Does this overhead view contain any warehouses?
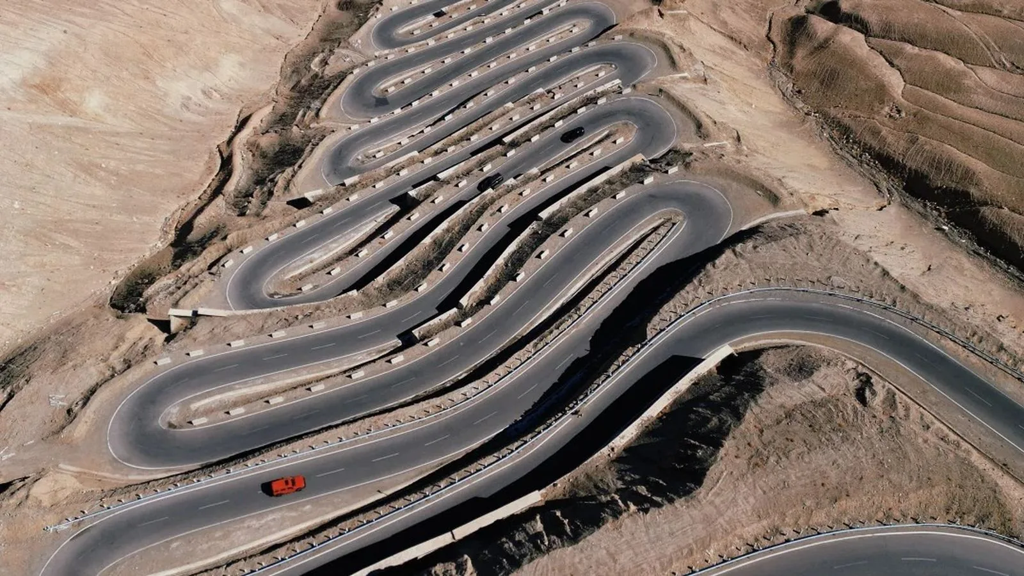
No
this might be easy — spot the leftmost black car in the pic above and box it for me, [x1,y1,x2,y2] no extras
[485,173,504,188]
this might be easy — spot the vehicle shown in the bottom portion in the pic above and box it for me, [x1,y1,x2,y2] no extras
[273,477,305,495]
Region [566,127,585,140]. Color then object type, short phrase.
black vehicle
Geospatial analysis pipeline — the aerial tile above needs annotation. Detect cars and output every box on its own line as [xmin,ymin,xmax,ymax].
[566,127,585,140]
[485,173,504,188]
[273,477,305,495]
